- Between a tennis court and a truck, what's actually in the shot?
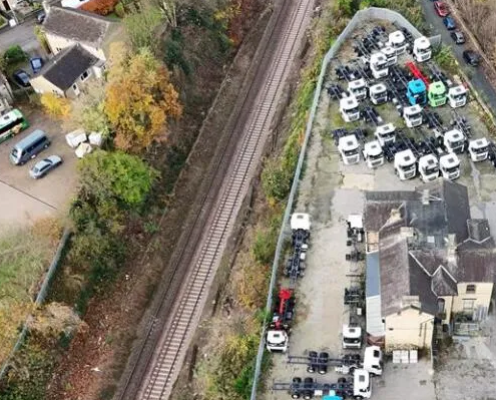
truck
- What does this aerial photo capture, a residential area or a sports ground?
residential area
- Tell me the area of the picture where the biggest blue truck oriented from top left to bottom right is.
top right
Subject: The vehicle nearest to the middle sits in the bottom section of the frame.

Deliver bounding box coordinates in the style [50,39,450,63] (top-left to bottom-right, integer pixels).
[286,216,311,290]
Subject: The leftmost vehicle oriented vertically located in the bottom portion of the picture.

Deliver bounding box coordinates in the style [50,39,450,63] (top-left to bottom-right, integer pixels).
[265,289,293,355]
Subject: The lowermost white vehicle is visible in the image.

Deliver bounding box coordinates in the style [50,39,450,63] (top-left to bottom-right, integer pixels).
[269,369,371,398]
